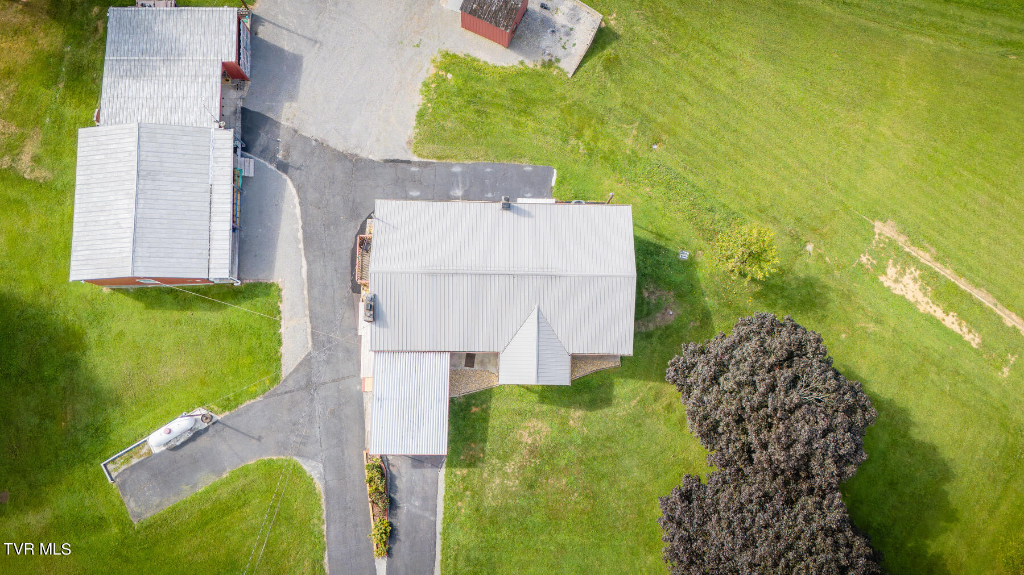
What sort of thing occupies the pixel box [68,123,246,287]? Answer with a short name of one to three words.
barn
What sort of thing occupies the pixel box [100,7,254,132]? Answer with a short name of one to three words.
building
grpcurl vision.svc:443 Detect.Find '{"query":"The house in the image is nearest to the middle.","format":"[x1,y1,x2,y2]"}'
[368,200,637,385]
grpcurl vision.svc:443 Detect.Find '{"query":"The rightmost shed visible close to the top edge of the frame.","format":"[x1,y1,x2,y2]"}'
[458,0,531,47]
